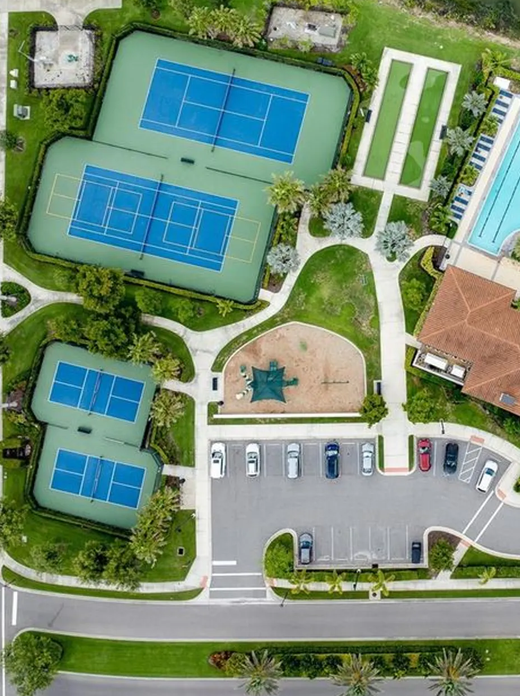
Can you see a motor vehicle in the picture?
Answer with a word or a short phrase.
Yes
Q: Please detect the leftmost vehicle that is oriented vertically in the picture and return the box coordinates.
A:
[209,442,227,478]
